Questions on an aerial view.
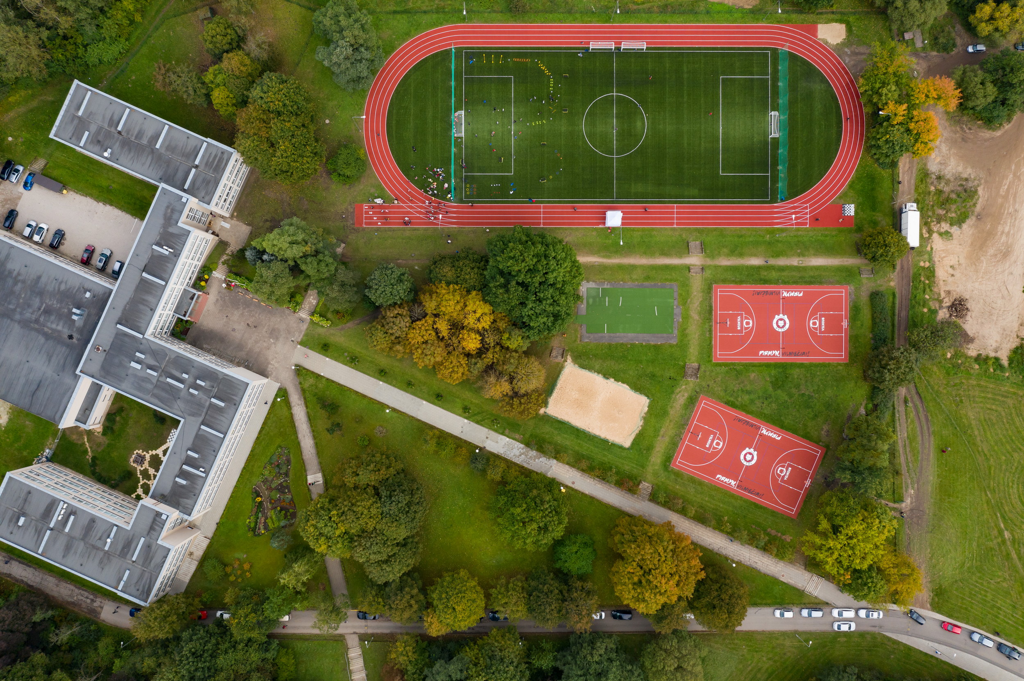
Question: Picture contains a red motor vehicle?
Yes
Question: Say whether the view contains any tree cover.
Yes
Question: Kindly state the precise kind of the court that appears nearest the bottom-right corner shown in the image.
basketball court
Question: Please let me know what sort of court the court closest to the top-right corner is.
basketball court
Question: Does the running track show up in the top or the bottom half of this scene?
top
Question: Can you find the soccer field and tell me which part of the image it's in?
top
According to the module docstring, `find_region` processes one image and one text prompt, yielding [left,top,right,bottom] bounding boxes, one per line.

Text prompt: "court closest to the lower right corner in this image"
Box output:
[670,394,826,520]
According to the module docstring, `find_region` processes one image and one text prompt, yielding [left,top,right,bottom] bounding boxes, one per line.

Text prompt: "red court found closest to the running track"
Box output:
[713,284,849,363]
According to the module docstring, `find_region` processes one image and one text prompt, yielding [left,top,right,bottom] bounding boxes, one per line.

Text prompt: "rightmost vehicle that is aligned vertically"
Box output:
[904,203,925,250]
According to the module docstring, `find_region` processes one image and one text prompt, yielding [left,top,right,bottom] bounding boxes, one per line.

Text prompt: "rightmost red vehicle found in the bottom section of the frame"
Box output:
[940,620,965,637]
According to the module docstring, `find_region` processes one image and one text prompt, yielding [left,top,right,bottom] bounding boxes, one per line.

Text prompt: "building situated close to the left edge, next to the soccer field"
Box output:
[0,79,271,607]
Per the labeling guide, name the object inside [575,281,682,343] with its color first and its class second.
green sports court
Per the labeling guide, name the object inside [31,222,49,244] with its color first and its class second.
white car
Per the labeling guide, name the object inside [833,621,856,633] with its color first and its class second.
white vehicle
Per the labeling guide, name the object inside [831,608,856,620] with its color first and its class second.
white vehicle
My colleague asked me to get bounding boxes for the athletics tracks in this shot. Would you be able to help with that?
[355,23,865,227]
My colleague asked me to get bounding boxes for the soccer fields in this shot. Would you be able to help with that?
[386,46,842,204]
